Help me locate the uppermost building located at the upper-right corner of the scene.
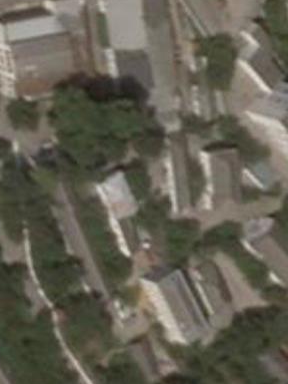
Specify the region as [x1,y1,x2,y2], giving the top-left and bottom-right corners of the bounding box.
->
[244,19,274,47]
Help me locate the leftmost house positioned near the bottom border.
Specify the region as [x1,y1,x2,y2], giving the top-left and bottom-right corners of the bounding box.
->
[129,331,175,384]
